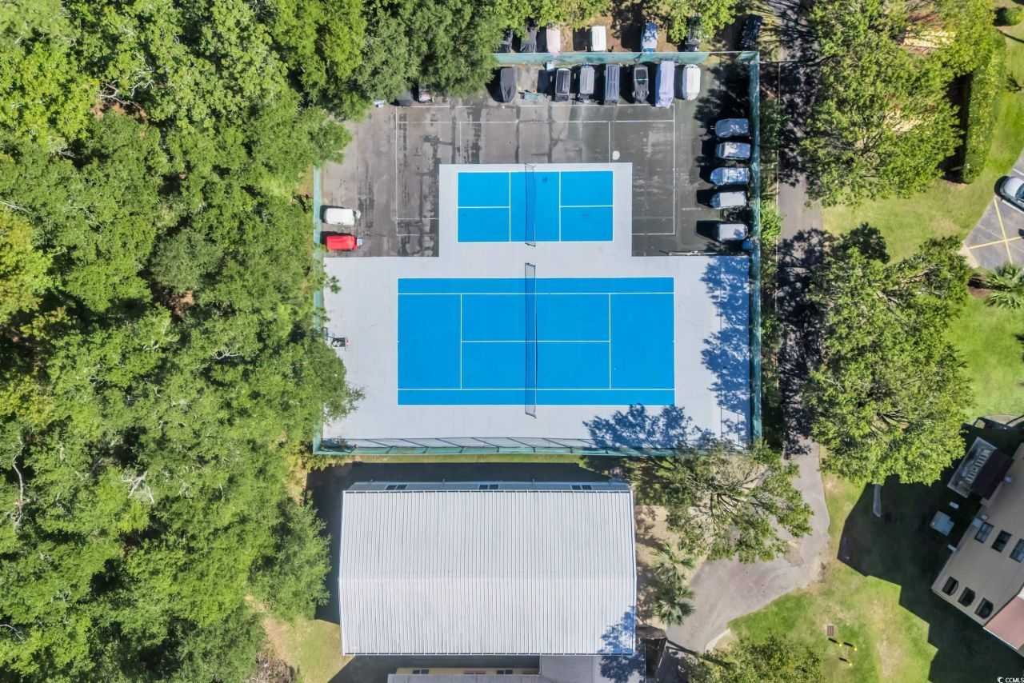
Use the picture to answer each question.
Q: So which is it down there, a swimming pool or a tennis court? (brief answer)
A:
tennis court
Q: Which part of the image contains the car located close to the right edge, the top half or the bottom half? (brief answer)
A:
top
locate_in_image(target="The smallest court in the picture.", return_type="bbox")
[439,163,632,257]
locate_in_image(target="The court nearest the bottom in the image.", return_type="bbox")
[323,257,750,447]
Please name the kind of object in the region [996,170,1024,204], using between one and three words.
car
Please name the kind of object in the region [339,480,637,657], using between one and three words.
building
